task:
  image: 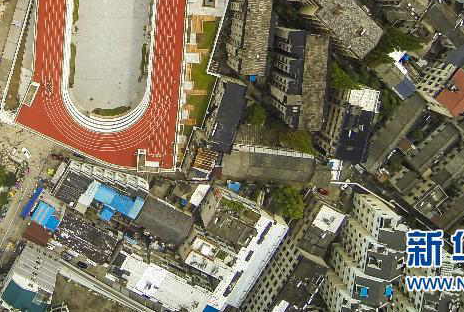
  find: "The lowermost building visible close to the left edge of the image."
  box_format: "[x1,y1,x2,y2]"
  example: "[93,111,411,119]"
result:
[2,279,52,312]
